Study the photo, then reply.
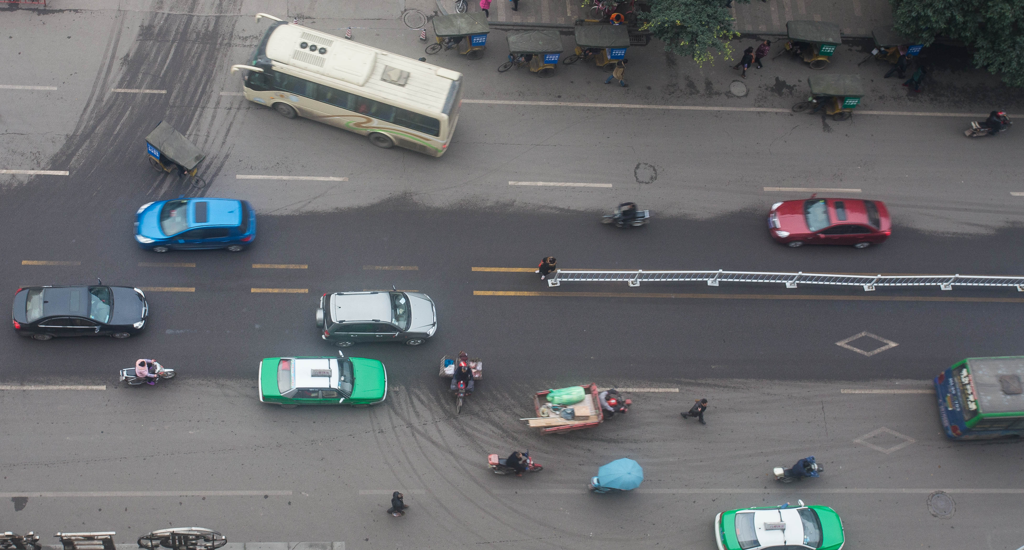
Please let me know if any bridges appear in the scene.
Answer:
No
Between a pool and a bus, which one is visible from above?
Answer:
bus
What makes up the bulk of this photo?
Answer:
paved ground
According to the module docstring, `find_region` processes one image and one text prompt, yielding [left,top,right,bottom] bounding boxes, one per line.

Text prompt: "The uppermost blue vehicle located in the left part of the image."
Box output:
[136,190,255,252]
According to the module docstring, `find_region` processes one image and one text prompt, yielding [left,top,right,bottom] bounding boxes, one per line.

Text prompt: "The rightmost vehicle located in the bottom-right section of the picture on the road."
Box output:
[937,358,1024,445]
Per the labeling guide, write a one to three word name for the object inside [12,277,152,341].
car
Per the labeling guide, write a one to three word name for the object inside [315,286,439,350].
car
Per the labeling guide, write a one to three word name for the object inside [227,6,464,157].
bus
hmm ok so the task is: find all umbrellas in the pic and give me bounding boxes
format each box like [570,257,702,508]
[598,457,645,493]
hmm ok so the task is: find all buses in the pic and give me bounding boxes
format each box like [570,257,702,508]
[937,358,1024,445]
[227,6,464,157]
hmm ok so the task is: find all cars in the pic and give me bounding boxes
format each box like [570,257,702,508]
[258,349,389,411]
[315,286,439,350]
[12,277,152,341]
[136,190,255,252]
[769,191,889,249]
[713,500,841,550]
